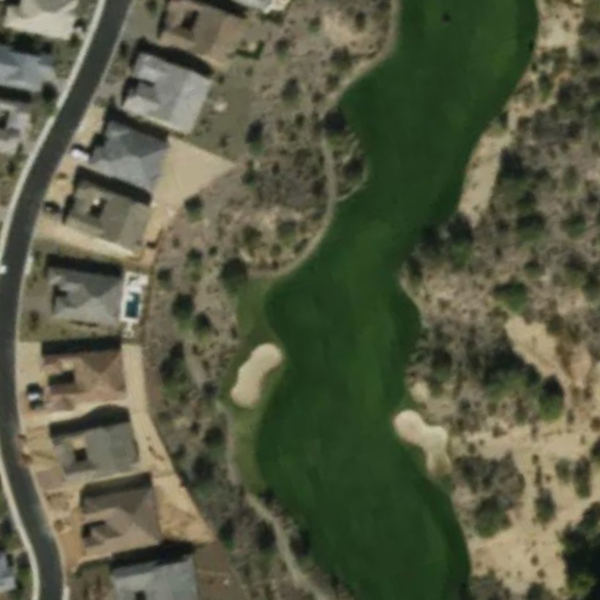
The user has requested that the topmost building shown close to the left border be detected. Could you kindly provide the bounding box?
[5,0,79,39]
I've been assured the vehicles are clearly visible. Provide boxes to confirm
[43,205,62,215]
[73,25,85,35]
[31,390,40,409]
[70,149,91,162]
